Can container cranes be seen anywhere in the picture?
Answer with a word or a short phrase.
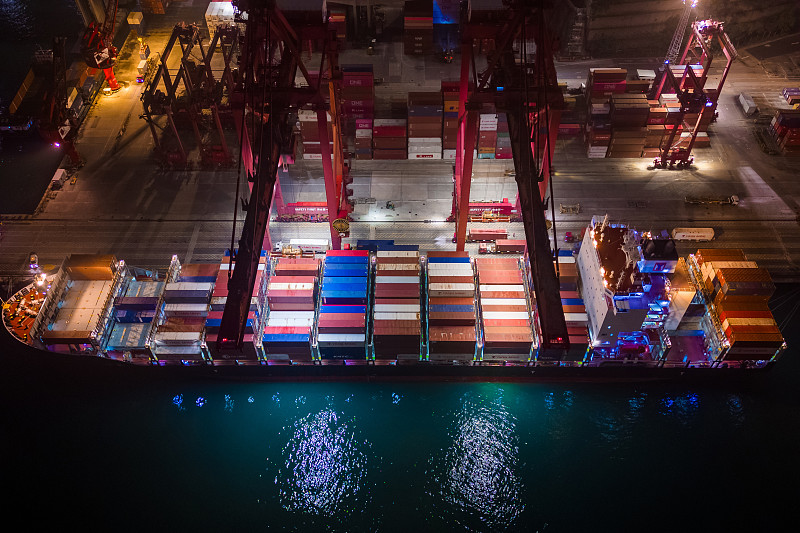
Yes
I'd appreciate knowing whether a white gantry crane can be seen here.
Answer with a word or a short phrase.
No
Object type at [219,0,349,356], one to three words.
container crane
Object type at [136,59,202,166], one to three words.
container crane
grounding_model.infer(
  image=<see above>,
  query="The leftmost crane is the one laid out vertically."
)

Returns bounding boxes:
[48,32,102,170]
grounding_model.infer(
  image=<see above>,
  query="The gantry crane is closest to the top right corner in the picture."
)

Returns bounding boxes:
[680,18,741,110]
